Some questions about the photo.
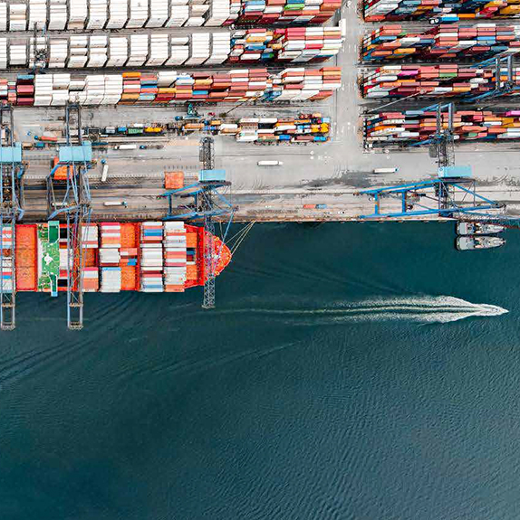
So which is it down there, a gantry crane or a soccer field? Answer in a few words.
gantry crane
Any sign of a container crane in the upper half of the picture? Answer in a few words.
Yes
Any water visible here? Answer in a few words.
Yes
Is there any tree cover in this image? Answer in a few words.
No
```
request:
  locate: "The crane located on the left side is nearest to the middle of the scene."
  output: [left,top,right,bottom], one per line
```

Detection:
[152,112,242,309]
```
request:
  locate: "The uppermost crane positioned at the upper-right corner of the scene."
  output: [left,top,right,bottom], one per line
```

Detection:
[451,48,510,103]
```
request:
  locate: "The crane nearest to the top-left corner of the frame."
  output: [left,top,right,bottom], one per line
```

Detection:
[28,15,49,71]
